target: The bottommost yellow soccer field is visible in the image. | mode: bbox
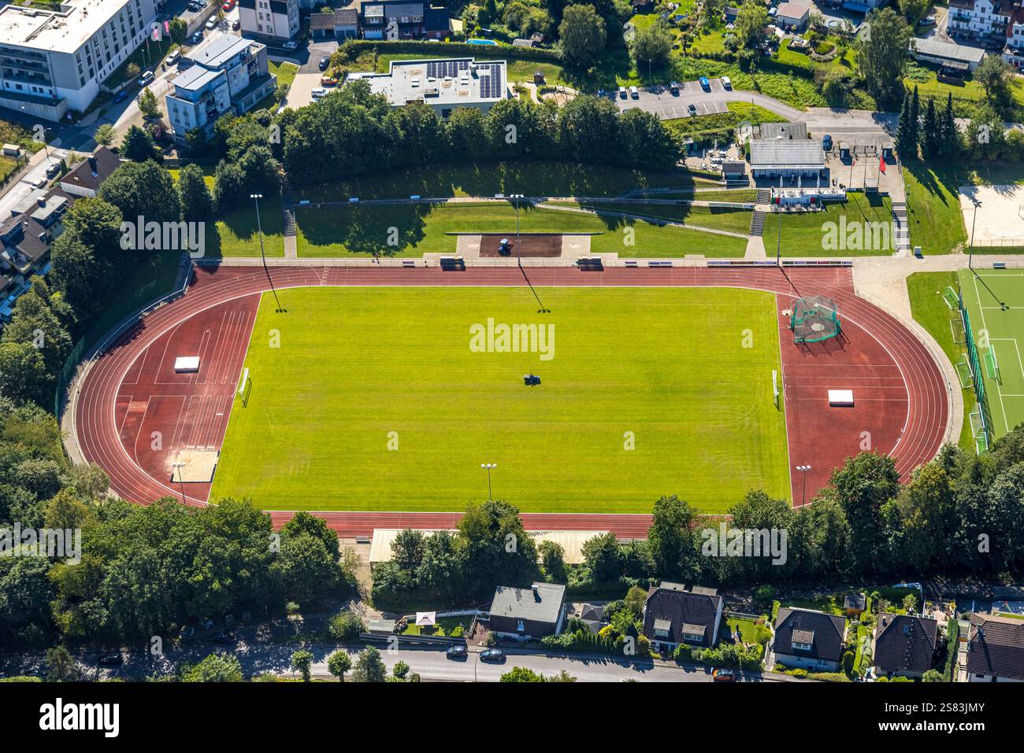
[209,286,792,514]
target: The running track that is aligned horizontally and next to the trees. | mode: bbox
[76,266,947,540]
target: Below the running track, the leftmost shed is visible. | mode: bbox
[363,612,397,638]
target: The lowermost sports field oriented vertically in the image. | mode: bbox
[959,269,1024,435]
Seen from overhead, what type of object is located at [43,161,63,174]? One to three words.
vehicle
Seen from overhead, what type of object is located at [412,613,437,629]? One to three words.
gazebo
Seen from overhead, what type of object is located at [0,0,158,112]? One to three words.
building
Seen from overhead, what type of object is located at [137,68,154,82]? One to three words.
car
